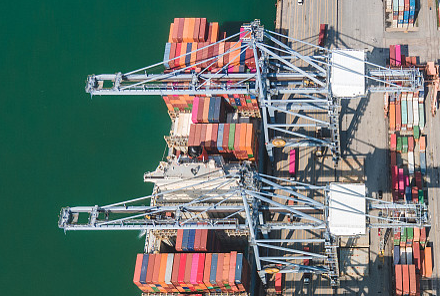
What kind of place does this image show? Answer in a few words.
port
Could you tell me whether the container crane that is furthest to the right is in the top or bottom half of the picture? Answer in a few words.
top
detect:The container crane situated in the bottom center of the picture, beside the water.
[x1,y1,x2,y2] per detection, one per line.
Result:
[55,165,432,294]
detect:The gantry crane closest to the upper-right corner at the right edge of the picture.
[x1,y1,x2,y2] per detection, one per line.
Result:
[382,62,439,110]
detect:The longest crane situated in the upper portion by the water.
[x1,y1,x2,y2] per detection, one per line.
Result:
[84,18,424,171]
